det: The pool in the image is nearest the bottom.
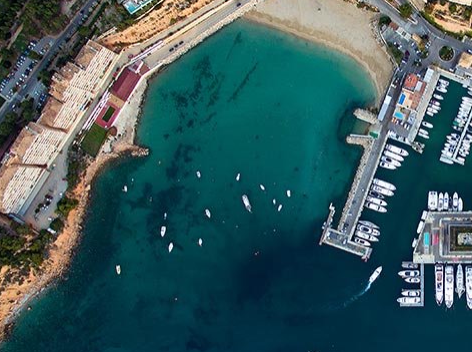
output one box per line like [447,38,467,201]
[390,105,408,121]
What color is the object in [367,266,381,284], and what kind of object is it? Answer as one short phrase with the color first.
white boat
